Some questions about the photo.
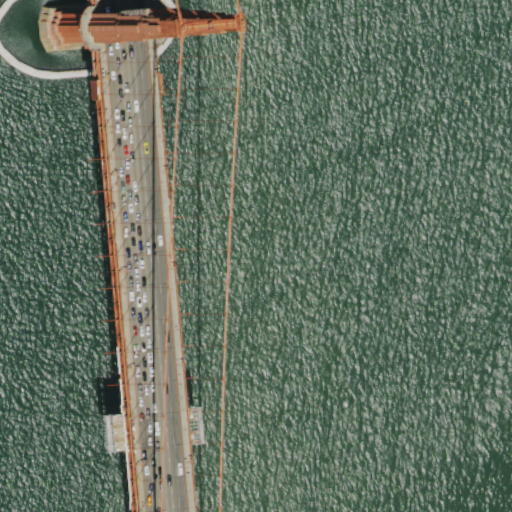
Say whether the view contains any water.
Yes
